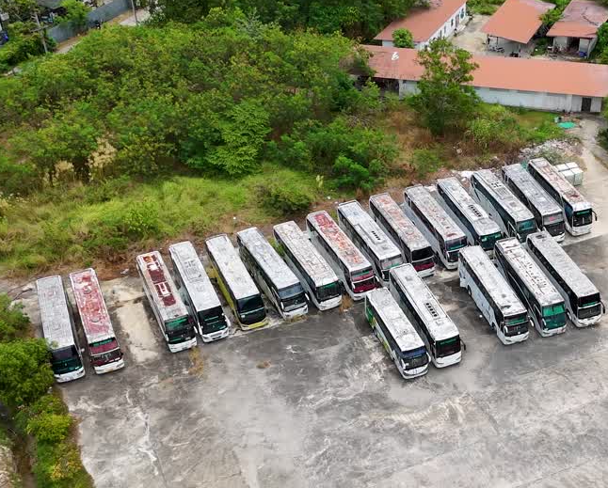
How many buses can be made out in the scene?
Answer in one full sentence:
In total, 20 buses can be seen.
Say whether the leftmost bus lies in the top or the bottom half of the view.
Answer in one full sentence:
The leftmost bus sits in the bottom half of the picture.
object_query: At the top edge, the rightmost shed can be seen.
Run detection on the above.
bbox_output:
[547,0,608,51]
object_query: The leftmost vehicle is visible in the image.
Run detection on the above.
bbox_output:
[38,276,82,380]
